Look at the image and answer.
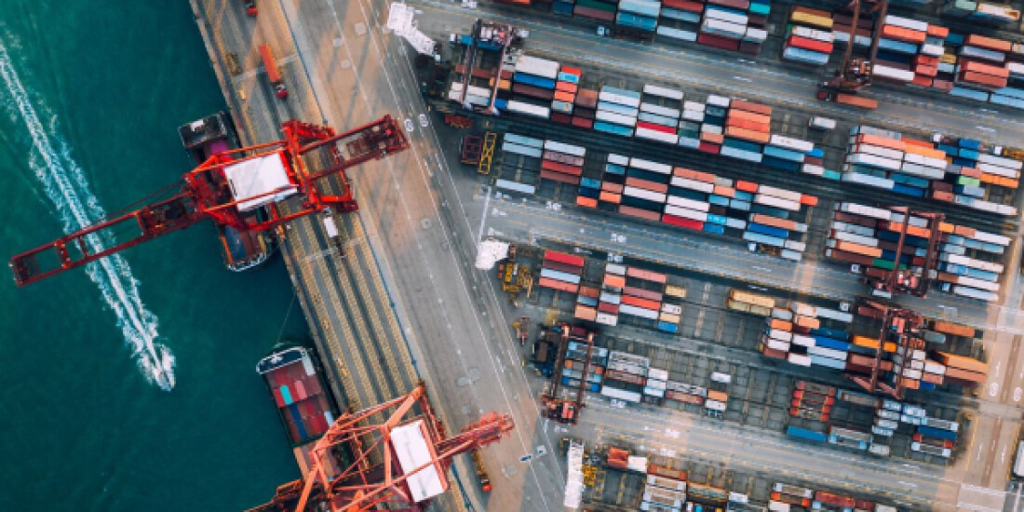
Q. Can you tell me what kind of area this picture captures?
port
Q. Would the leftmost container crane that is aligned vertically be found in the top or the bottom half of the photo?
top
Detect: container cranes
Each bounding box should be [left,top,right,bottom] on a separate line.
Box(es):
[838,297,920,399]
[539,315,596,419]
[10,115,406,296]
[811,0,893,95]
[860,201,945,299]
[259,379,521,512]
[459,16,519,117]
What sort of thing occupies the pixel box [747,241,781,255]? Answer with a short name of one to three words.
vehicle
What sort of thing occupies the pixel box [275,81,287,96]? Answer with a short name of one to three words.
vehicle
